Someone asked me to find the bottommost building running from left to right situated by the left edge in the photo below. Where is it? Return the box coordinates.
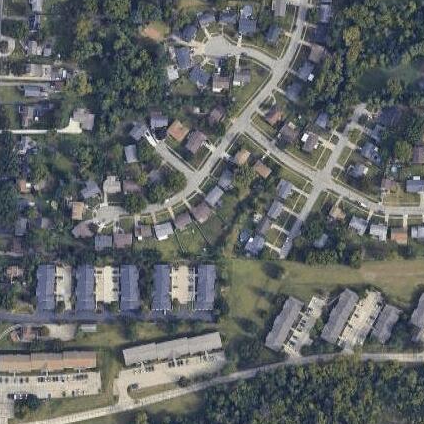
[0,351,96,376]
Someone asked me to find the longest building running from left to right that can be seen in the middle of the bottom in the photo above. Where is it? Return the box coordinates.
[123,332,223,369]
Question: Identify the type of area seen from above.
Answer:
residential area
